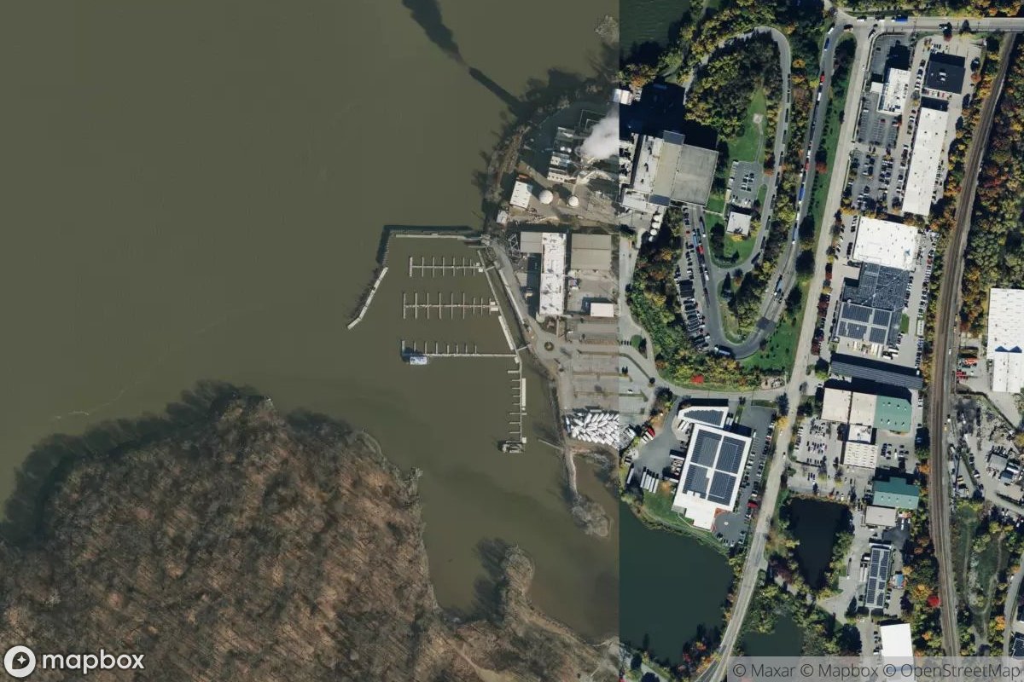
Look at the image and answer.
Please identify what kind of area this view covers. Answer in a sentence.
This image shows a port.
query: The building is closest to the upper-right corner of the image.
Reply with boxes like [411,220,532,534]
[925,60,966,94]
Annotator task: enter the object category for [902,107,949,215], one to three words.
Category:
building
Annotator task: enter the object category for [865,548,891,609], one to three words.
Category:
shed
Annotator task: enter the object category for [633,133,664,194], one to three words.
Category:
building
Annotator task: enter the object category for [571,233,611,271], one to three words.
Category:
shed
